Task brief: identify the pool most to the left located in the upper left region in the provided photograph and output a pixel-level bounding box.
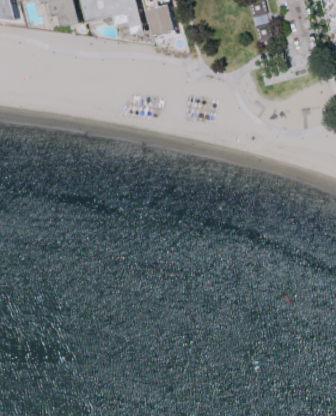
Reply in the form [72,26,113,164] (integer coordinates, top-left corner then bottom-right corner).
[26,2,45,26]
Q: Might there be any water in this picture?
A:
Yes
